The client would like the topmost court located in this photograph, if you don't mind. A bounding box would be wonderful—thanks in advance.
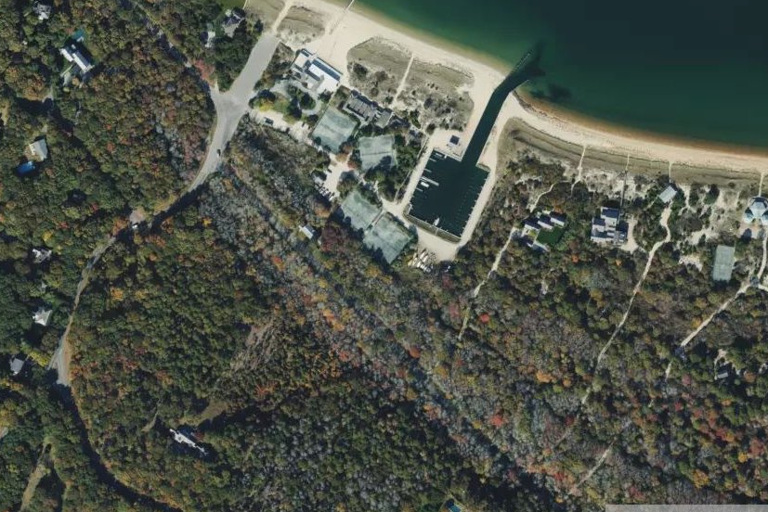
[312,108,356,151]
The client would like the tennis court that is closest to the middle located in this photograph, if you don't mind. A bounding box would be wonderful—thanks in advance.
[364,216,411,263]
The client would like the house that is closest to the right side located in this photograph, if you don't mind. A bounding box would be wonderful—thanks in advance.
[742,198,768,224]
